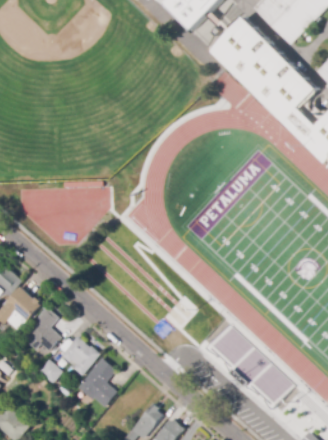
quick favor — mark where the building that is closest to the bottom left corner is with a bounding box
[0,410,29,440]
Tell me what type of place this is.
sports ground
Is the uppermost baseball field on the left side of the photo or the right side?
left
